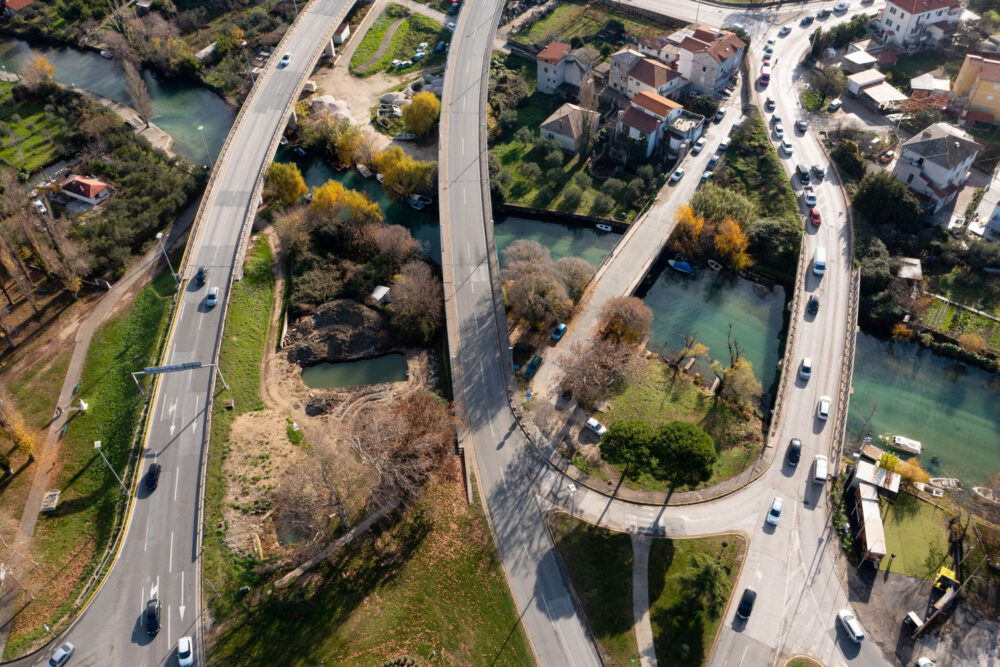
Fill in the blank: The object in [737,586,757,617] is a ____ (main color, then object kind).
black car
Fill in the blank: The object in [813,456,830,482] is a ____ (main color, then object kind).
white vehicle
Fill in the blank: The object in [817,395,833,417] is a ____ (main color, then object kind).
white car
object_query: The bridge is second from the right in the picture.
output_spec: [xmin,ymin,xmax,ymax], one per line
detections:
[586,202,687,305]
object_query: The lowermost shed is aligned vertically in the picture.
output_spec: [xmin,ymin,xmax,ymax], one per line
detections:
[846,483,888,566]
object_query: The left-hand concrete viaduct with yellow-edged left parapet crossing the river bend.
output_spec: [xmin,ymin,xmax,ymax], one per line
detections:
[165,0,360,329]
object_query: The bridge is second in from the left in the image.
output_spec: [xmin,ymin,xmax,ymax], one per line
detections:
[437,0,521,430]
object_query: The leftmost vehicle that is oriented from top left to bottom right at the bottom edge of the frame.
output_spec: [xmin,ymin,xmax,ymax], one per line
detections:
[836,606,869,644]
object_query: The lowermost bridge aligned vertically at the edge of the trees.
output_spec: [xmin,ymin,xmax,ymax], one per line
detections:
[769,234,860,475]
